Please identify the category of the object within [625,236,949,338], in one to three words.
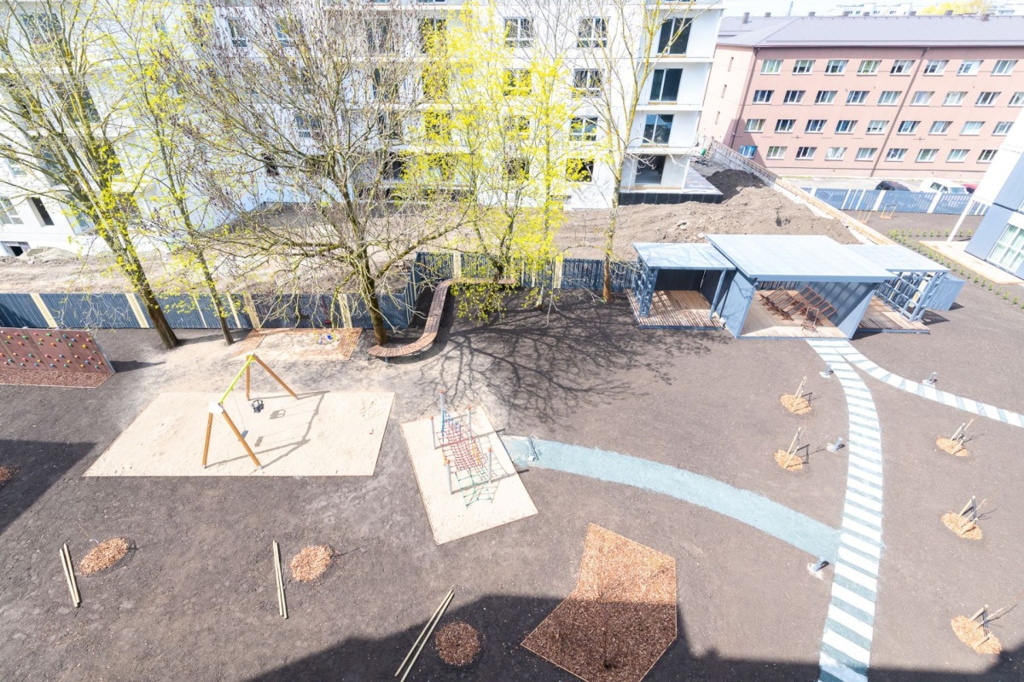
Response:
building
